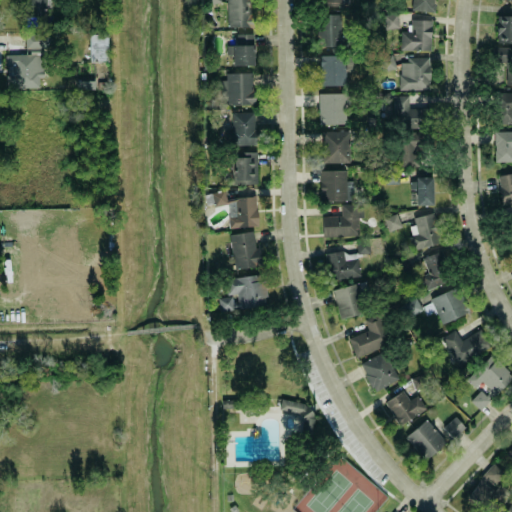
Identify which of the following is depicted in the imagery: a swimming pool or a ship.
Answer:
swimming pool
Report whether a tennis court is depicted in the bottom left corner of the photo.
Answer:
No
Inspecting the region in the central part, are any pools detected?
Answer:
Yes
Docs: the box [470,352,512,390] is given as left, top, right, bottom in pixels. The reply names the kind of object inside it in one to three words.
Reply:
house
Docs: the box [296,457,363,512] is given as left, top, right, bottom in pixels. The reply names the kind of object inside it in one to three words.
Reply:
tennis court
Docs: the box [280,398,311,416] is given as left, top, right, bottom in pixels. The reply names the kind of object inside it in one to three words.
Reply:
building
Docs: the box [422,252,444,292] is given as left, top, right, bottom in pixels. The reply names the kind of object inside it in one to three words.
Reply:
house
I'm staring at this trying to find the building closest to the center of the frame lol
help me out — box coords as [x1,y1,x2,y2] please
[232,232,261,269]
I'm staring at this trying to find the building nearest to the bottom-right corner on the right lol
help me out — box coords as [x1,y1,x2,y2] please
[476,463,504,493]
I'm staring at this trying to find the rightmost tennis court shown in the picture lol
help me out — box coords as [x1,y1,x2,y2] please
[334,476,386,512]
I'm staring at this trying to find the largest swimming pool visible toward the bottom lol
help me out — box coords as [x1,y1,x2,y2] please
[226,405,287,468]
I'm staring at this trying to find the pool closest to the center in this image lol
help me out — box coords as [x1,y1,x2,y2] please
[208,205,230,230]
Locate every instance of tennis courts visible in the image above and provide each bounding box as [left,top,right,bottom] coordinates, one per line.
[334,476,386,512]
[296,457,363,512]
